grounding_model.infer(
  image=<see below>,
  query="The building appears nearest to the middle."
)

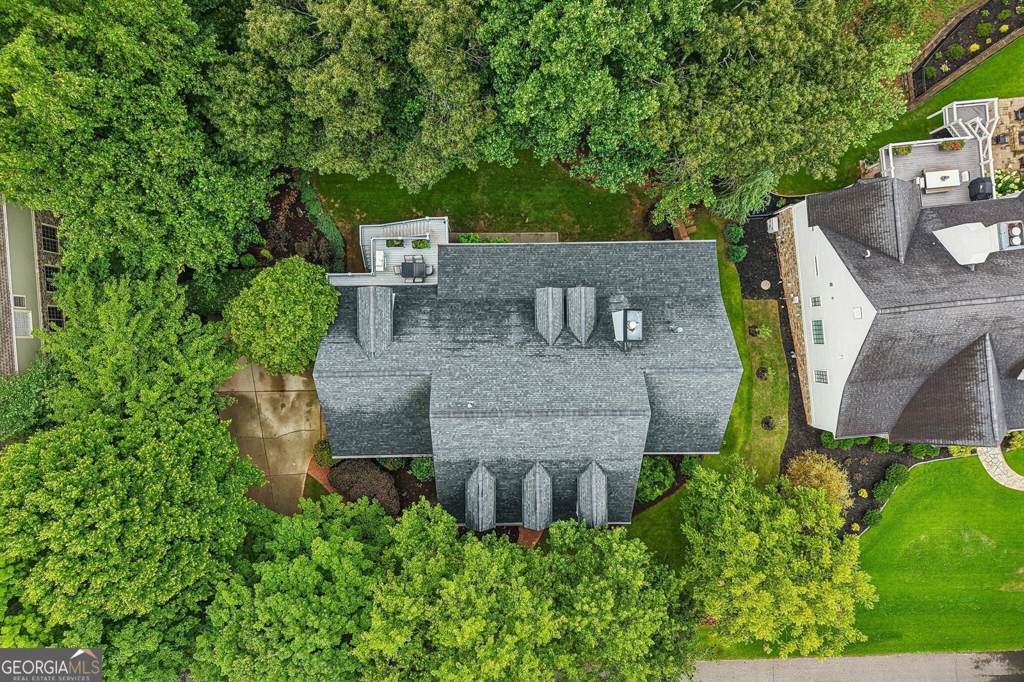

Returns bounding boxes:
[313,240,743,532]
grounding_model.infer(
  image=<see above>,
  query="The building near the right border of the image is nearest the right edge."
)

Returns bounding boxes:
[772,176,1024,445]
